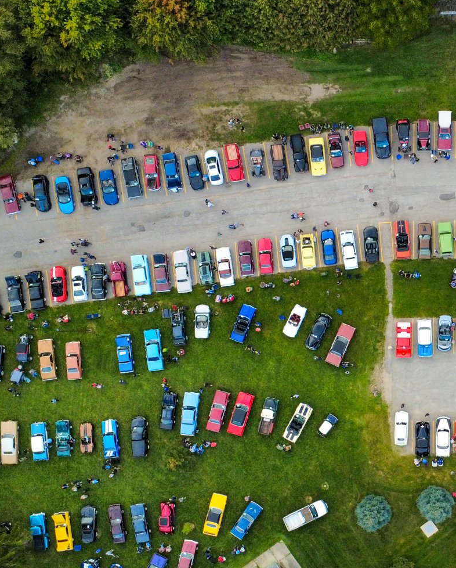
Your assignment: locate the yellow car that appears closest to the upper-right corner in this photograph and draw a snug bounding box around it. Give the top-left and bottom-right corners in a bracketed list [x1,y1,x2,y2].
[309,137,326,177]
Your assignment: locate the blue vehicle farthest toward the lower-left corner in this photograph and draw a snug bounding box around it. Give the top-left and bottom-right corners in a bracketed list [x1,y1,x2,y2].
[30,512,49,552]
